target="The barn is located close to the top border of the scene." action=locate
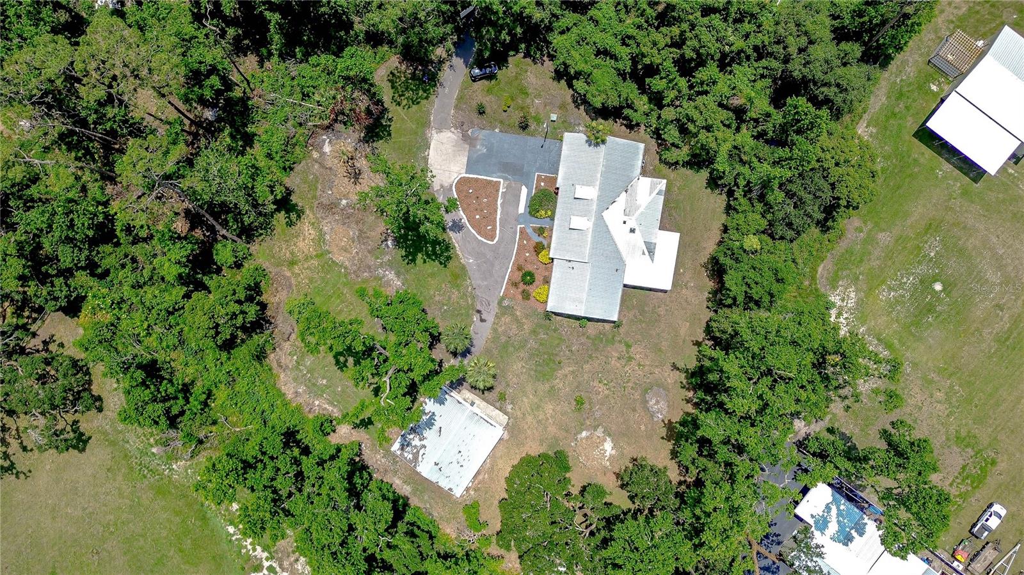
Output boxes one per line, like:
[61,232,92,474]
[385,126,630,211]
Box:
[910,25,1024,175]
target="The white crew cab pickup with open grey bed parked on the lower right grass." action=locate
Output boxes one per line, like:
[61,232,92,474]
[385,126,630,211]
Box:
[972,502,1005,541]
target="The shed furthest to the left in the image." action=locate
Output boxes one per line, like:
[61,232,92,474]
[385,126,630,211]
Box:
[391,385,506,498]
